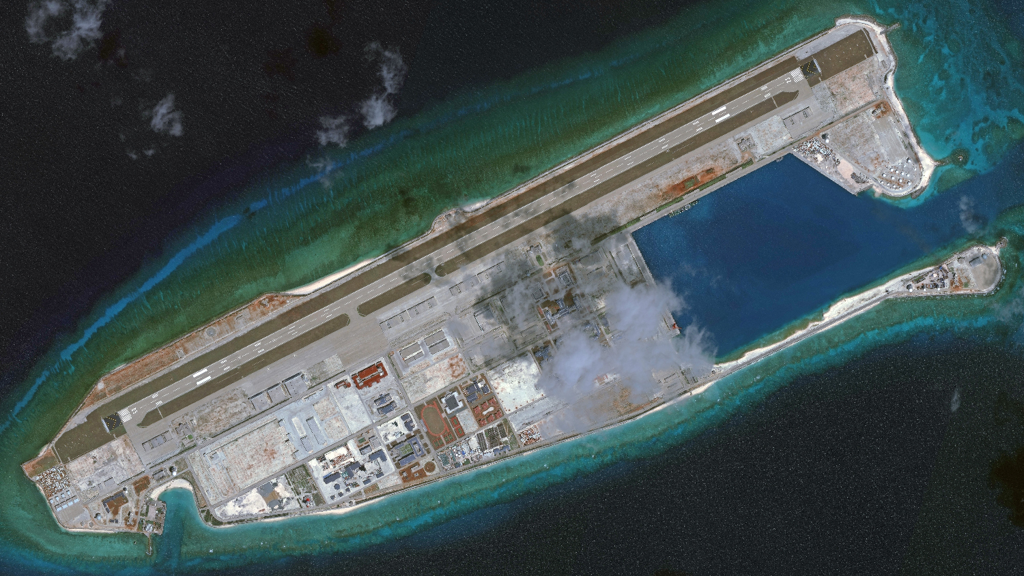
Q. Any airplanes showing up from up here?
No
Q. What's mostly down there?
water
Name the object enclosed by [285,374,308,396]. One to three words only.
hangar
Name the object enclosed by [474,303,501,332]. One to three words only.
hangar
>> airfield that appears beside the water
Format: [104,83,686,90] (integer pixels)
[54,28,875,469]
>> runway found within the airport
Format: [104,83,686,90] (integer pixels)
[118,65,806,424]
